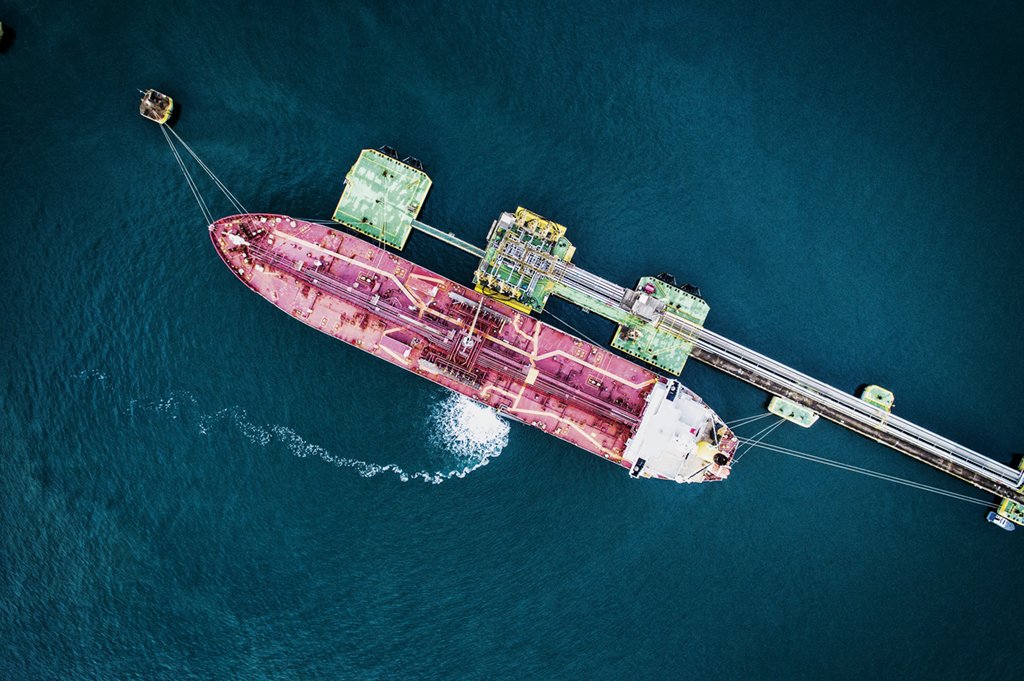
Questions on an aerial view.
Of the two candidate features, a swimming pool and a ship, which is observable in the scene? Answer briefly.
ship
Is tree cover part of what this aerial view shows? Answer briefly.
No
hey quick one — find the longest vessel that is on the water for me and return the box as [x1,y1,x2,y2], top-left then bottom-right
[208,213,741,484]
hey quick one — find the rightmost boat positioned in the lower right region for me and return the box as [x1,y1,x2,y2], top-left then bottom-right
[987,512,1015,531]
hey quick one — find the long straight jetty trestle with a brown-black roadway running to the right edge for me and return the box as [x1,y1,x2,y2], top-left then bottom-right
[689,333,1024,507]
